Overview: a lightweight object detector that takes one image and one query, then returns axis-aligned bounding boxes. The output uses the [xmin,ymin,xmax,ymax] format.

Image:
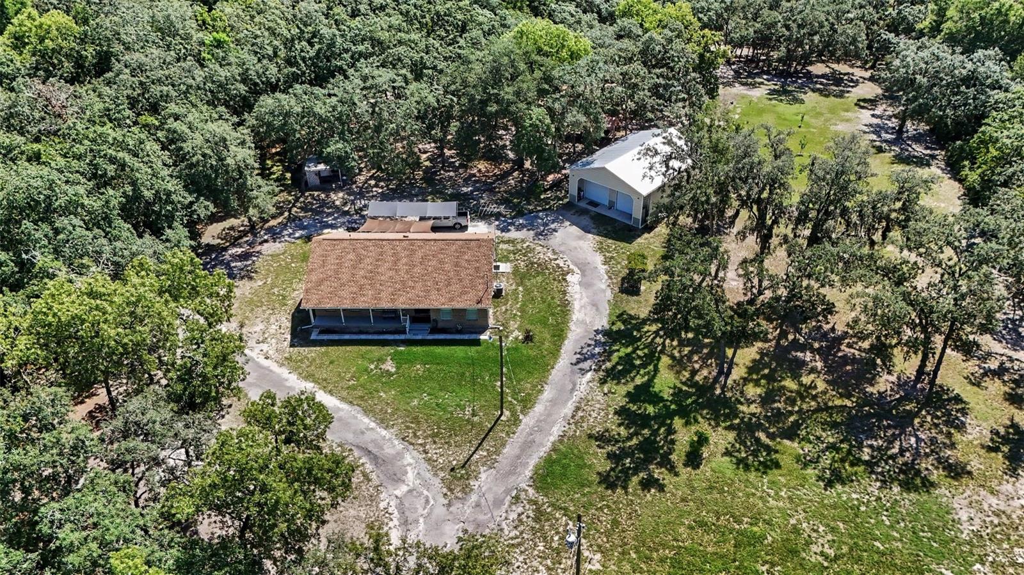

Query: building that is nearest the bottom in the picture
[300,232,502,335]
